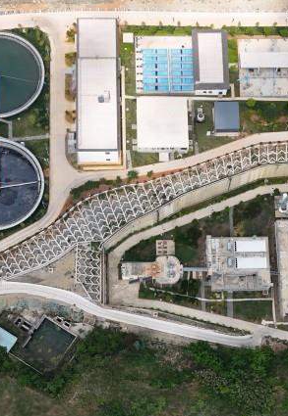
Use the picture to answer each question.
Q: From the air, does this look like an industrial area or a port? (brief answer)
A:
industrial area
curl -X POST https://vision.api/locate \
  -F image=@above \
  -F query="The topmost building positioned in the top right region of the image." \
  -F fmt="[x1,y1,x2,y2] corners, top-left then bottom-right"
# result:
[193,28,230,97]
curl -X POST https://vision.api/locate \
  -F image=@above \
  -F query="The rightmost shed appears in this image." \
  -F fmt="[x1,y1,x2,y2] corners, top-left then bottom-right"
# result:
[213,100,240,138]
